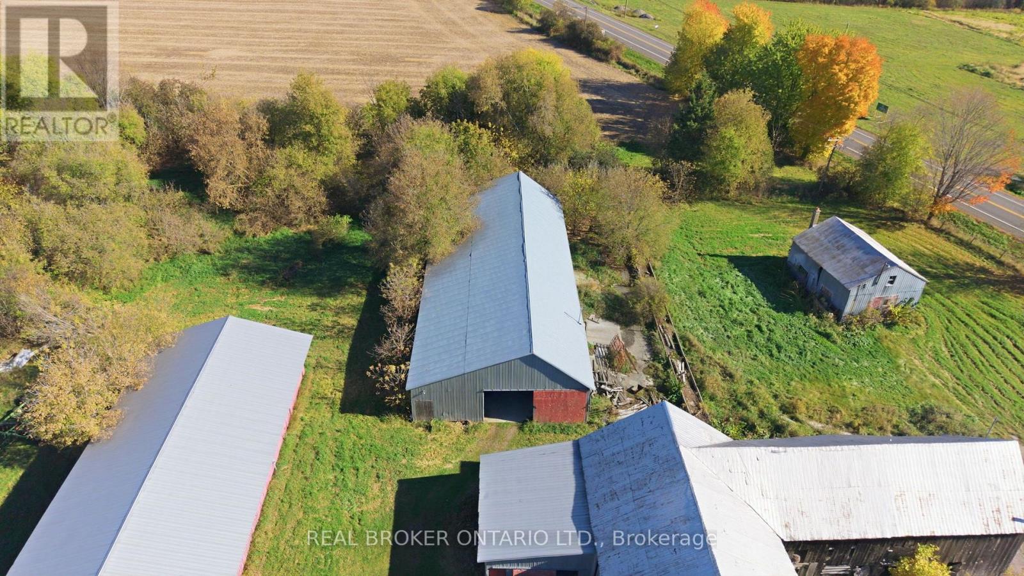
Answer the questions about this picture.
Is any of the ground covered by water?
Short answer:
No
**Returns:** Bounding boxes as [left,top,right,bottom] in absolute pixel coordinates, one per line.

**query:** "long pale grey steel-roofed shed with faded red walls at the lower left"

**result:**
[5,315,313,576]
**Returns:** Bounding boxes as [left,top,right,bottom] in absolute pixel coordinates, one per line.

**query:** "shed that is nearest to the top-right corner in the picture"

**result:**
[788,206,929,317]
